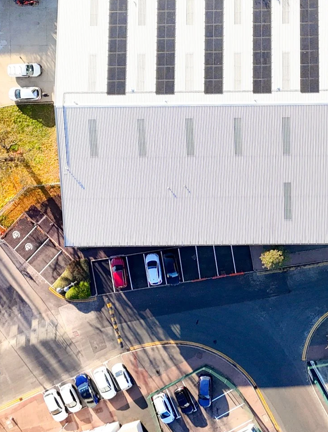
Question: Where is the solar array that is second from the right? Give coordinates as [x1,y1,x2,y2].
[251,0,272,93]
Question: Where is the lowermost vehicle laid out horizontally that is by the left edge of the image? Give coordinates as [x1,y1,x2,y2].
[9,86,44,103]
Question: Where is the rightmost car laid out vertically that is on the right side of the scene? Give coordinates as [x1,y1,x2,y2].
[196,374,213,408]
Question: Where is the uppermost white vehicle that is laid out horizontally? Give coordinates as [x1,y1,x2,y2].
[7,61,43,78]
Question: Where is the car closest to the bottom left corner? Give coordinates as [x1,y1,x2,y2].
[42,387,67,424]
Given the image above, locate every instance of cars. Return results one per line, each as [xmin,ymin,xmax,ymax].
[59,380,83,414]
[152,391,174,425]
[76,370,99,408]
[42,387,67,424]
[111,359,134,395]
[110,255,131,293]
[9,86,44,103]
[196,374,213,408]
[176,384,196,416]
[92,364,117,400]
[163,248,182,284]
[144,252,162,287]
